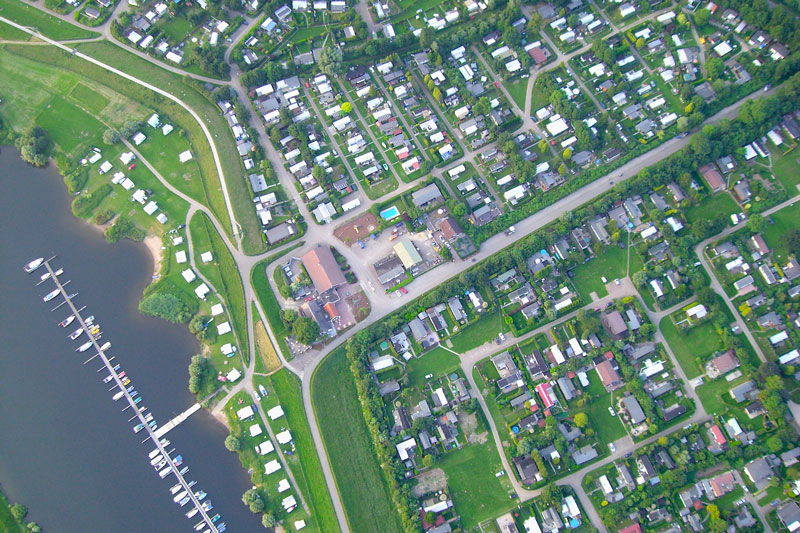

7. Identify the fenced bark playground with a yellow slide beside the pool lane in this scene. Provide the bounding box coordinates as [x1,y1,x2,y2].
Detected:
[334,211,380,245]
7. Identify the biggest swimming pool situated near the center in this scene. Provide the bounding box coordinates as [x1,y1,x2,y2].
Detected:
[380,205,401,220]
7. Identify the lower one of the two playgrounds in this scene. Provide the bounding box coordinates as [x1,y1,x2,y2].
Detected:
[346,289,370,321]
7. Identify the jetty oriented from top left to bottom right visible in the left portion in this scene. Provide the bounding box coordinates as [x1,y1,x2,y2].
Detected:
[35,256,219,533]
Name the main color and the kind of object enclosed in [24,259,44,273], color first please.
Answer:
white boat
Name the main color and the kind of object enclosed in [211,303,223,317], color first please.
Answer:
white vehicle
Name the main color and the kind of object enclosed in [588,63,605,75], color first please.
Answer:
white vehicle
